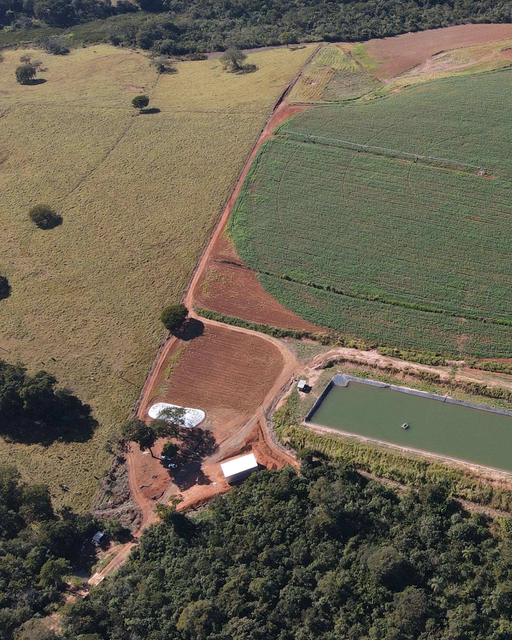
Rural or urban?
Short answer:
rural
